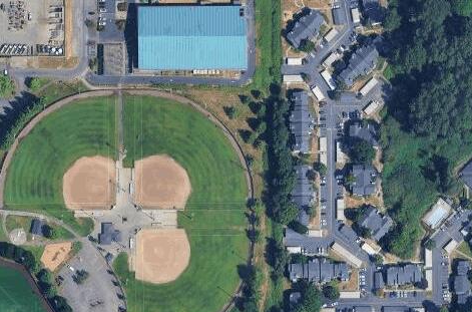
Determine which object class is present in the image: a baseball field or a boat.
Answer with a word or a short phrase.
baseball field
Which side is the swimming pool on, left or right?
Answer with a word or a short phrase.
right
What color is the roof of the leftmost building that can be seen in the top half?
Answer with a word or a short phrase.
blue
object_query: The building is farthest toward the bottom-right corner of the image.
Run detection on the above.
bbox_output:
[452,278,472,298]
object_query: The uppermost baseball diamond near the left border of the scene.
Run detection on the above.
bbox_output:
[0,89,119,214]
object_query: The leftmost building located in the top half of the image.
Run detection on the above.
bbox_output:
[137,4,245,69]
